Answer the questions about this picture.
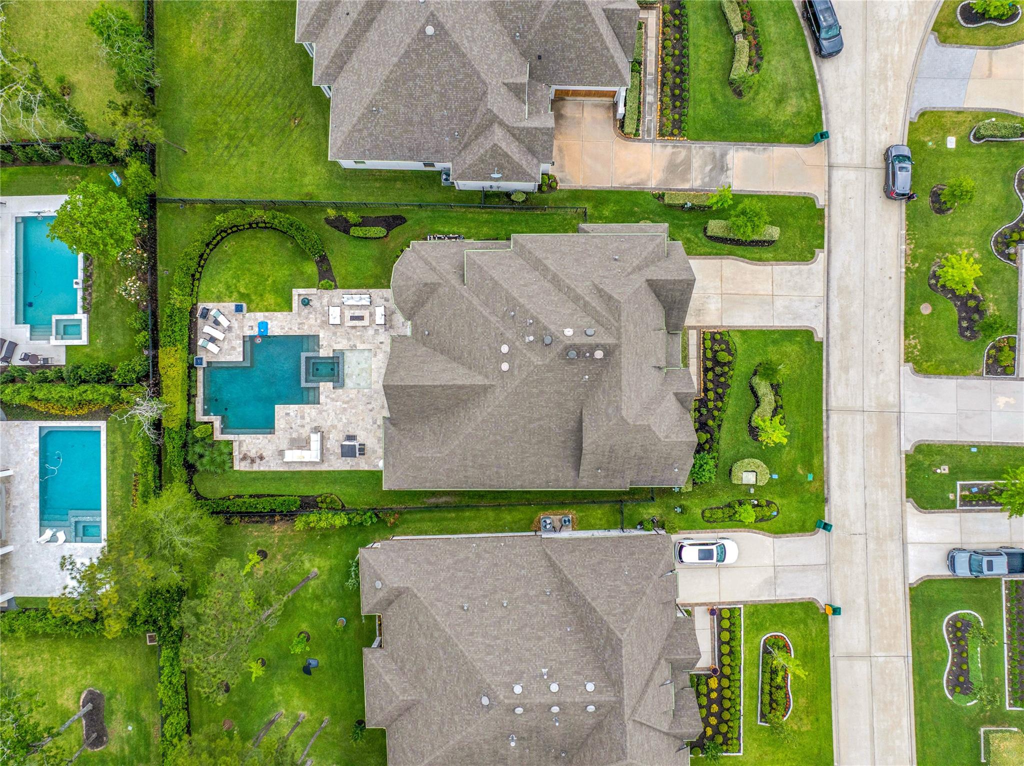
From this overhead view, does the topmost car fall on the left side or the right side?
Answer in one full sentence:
The topmost car sits on the right side.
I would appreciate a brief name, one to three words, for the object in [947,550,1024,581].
truck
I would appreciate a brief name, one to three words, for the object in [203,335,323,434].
swimming pool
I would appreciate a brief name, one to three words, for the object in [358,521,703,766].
house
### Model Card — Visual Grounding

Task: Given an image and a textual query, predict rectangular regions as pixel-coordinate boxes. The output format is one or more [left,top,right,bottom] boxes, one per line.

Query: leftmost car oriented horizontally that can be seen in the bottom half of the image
[678,540,736,568]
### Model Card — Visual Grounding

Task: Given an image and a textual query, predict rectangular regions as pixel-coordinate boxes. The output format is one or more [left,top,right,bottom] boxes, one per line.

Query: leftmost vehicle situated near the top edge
[801,0,842,50]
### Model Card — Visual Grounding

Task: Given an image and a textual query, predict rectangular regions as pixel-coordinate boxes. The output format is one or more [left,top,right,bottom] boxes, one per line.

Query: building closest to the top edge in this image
[294,0,640,189]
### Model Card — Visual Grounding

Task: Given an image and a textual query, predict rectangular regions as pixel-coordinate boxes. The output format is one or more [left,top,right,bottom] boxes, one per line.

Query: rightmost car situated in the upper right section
[883,144,915,198]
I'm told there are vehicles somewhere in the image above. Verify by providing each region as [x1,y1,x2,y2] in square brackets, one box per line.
[947,550,1024,581]
[678,540,736,568]
[883,144,915,198]
[801,0,842,50]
